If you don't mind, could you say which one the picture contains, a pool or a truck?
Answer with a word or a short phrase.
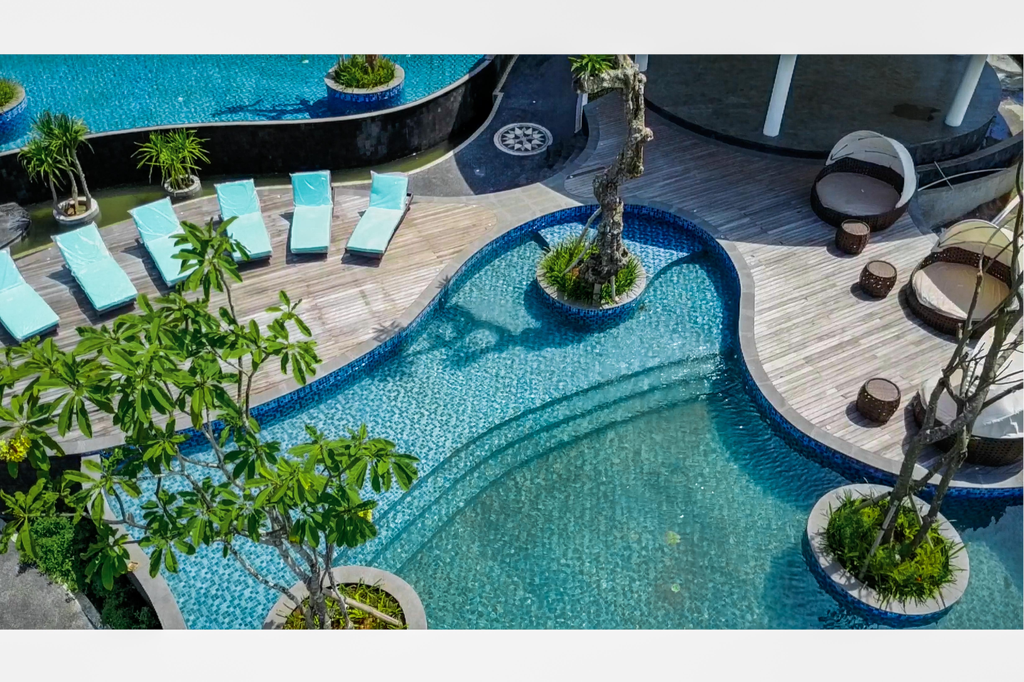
pool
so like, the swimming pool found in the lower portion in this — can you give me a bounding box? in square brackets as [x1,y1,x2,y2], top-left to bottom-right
[105,214,1024,682]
